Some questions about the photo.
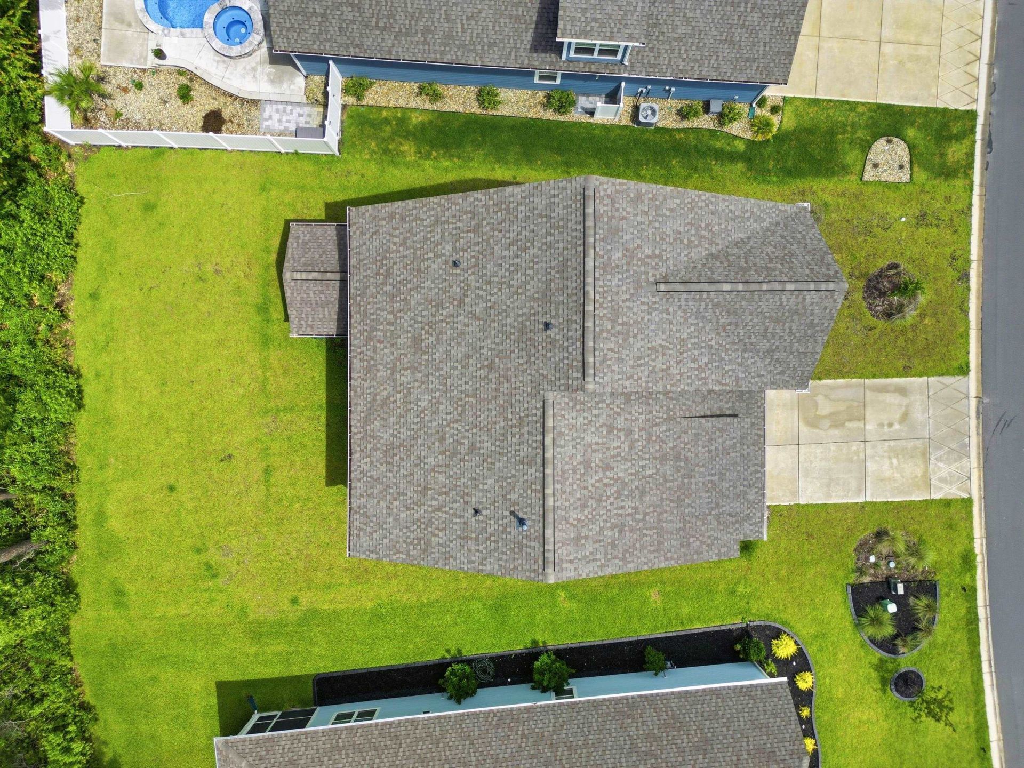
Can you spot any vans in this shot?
No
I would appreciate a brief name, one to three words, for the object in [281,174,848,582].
house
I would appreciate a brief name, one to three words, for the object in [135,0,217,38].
swimming pool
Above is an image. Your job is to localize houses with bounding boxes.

[268,0,805,111]
[281,174,848,582]
[211,660,808,768]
